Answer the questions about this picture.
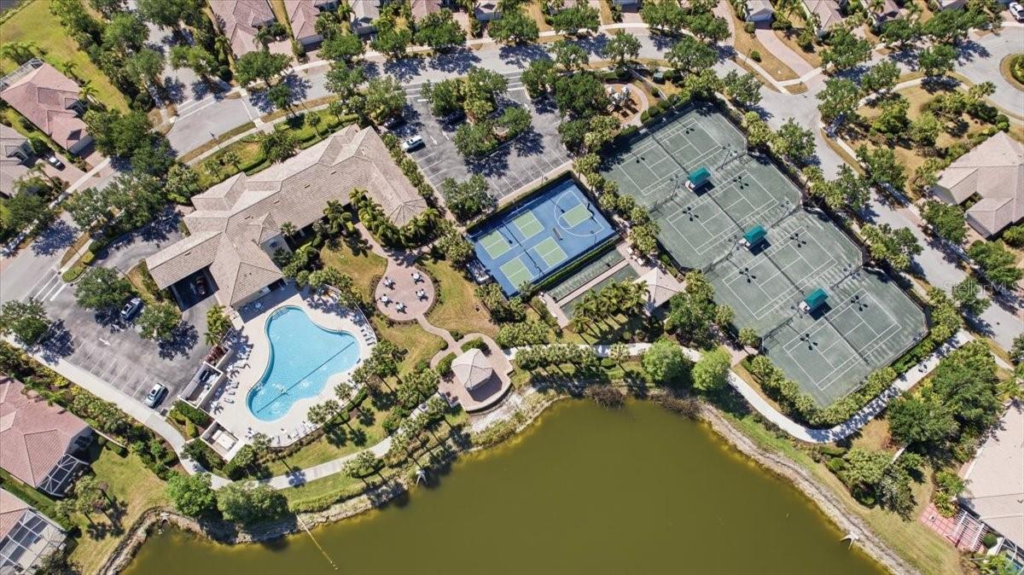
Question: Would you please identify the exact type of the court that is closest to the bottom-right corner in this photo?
tennis court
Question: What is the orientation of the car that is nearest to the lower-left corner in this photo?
on a diagonal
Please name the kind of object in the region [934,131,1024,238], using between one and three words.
house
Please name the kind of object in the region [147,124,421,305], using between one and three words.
building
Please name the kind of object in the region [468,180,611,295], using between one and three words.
basketball court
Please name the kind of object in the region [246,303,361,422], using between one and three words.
swimming pool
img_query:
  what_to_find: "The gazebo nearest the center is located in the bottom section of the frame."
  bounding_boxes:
[451,348,492,392]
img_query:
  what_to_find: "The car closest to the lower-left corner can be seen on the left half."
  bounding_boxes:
[146,382,167,405]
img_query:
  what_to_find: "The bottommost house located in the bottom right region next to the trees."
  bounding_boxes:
[957,405,1024,544]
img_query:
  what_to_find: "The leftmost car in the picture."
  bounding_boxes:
[47,152,64,167]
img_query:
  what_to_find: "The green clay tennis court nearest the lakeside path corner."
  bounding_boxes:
[762,266,927,407]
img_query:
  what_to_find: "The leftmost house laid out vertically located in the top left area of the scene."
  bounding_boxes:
[0,107,42,198]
